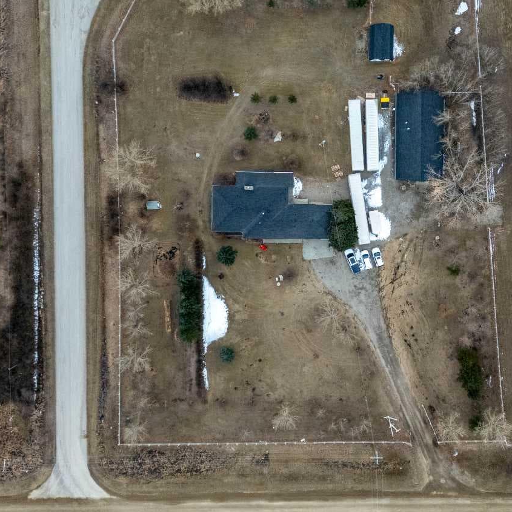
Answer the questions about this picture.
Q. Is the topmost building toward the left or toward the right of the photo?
right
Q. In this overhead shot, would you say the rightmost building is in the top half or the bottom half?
top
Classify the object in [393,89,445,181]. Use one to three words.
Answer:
building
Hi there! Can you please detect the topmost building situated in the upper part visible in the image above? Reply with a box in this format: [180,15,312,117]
[368,22,393,66]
